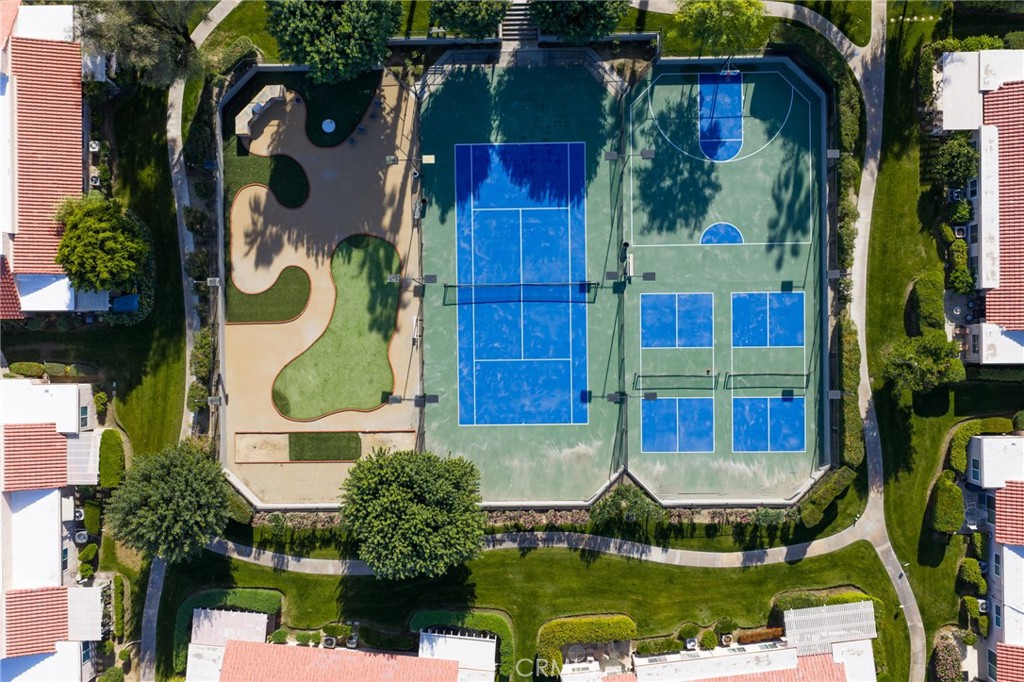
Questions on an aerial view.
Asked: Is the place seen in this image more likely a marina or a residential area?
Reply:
residential area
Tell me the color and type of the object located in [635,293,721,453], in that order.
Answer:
blue sports court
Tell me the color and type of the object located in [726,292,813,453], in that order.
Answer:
blue sports court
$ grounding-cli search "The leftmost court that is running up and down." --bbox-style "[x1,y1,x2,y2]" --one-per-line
[419,66,623,501]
